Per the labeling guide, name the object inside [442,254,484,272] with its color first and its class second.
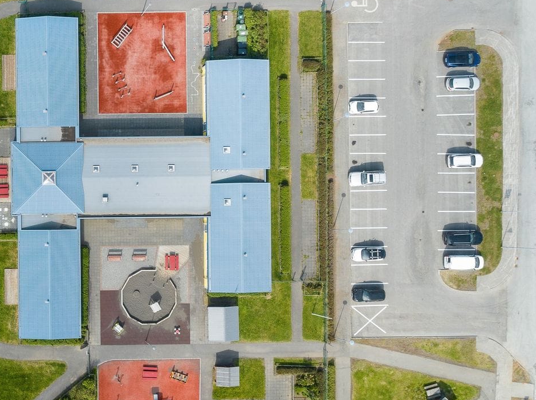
white vehicle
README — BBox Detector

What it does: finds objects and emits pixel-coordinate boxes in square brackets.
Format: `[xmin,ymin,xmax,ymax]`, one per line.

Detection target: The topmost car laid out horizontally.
[442,49,480,67]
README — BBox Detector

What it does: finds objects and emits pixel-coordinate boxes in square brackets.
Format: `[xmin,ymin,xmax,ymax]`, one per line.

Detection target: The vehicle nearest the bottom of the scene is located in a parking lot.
[351,286,386,303]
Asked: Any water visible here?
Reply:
No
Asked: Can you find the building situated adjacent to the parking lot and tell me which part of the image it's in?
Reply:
left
